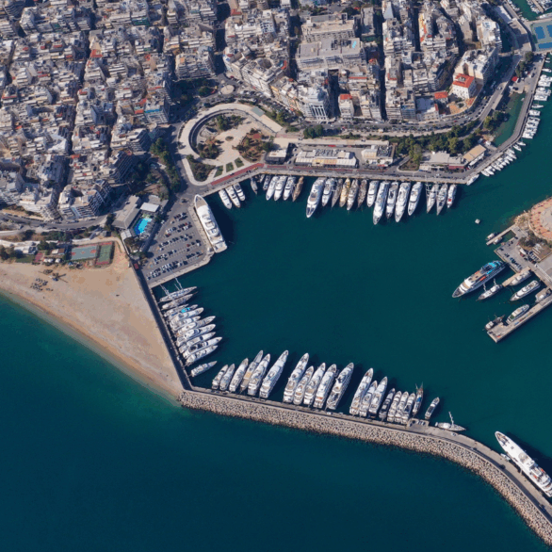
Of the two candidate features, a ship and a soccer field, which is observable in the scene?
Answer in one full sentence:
I can see a ship in this picture.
